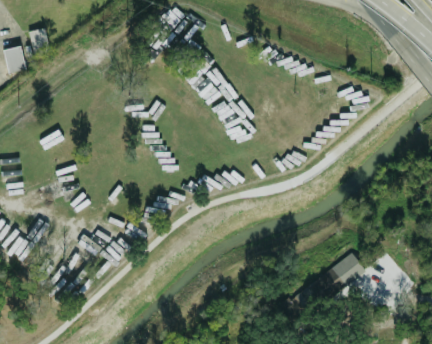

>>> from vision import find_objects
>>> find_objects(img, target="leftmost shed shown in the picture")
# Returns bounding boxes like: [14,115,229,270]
[4,46,28,74]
